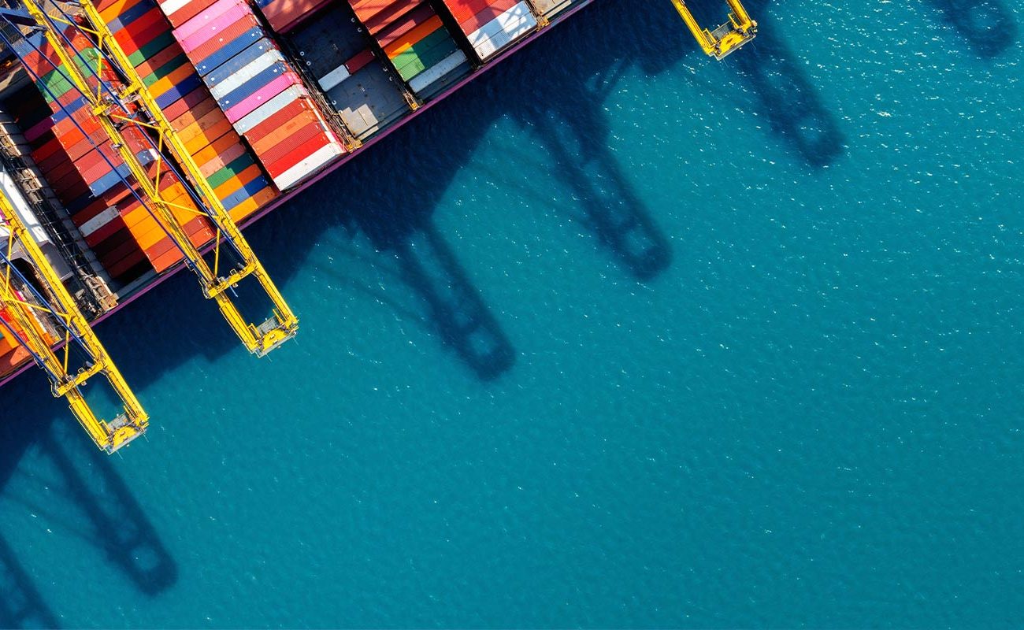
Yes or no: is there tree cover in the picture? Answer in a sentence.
No, there's no tree cover in this view.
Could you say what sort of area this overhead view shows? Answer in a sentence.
What you see here is a port.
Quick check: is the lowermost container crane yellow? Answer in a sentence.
Yes, yellow is the color of the lowermost container crane.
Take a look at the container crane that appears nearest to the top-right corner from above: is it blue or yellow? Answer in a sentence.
From above, the container crane that appears nearest to the top-right corner appears yellow.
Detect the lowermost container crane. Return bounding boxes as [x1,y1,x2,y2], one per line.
[0,188,151,461]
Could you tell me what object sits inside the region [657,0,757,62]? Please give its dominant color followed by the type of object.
yellow container crane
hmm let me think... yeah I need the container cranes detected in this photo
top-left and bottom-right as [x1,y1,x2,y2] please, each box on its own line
[0,0,300,363]
[0,188,151,461]
[657,0,757,62]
